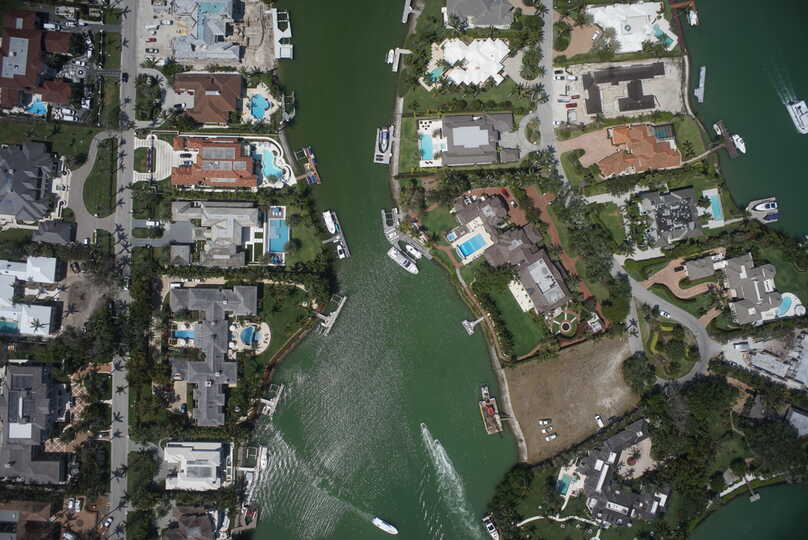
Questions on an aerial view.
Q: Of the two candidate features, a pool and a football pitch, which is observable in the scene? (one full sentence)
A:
Looking from above, you can make out a pool.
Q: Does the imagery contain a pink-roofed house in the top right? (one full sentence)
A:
No, no pink-roofed house appears in the top right.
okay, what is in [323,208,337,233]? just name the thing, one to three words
boat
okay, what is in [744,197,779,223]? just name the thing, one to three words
pier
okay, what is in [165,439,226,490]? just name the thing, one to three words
house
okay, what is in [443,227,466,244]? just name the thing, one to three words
swimming pool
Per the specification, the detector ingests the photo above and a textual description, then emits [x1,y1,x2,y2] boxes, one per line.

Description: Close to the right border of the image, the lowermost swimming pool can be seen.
[774,293,805,318]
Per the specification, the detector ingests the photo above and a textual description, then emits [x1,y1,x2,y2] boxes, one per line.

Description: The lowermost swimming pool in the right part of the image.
[557,472,571,497]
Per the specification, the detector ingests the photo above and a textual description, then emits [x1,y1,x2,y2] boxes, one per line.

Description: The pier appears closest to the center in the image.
[380,208,432,261]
